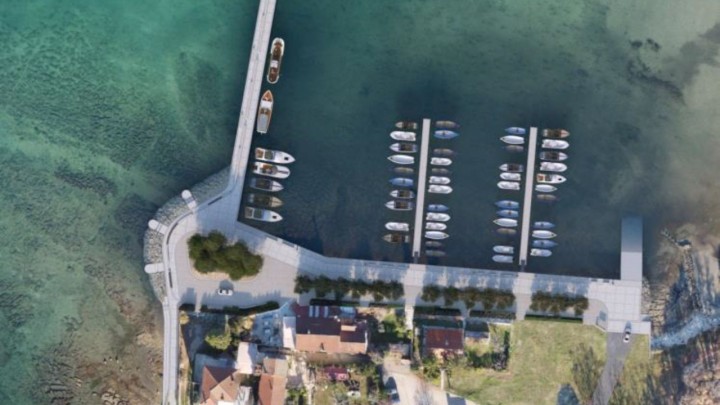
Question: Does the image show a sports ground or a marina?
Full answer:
It's a marina.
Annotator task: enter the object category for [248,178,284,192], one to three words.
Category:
boat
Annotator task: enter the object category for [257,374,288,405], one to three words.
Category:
house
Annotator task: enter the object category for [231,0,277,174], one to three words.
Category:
pier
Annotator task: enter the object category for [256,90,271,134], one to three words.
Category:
boat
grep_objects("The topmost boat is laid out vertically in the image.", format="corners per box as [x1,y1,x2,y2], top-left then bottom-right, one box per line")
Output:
[266,37,282,85]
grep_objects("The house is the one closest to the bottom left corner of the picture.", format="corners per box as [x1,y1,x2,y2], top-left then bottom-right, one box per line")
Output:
[200,365,239,405]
